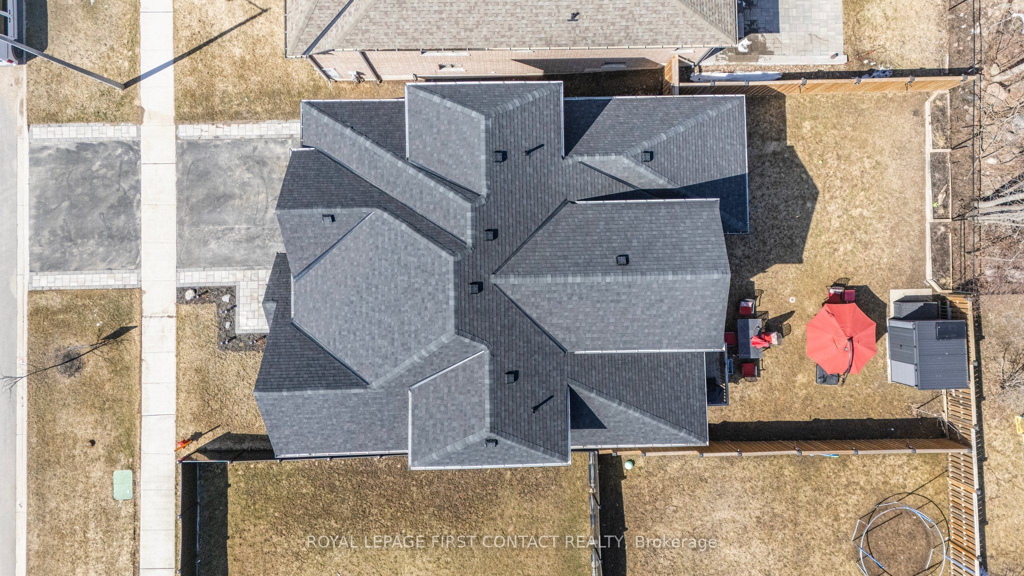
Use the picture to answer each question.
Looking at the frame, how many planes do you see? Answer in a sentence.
There are no planes in this view.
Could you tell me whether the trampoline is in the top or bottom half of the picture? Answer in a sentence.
You can find the trampoline in the bottom half.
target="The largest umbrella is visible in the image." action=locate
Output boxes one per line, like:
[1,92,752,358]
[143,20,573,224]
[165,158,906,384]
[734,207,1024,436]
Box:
[805,303,876,385]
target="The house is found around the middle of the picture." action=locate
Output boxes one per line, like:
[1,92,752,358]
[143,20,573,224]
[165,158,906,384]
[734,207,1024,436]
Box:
[253,79,751,472]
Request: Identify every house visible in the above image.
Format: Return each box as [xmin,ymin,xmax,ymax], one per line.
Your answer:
[253,79,751,472]
[282,0,741,89]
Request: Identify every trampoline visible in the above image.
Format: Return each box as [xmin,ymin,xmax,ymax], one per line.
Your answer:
[851,502,978,576]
